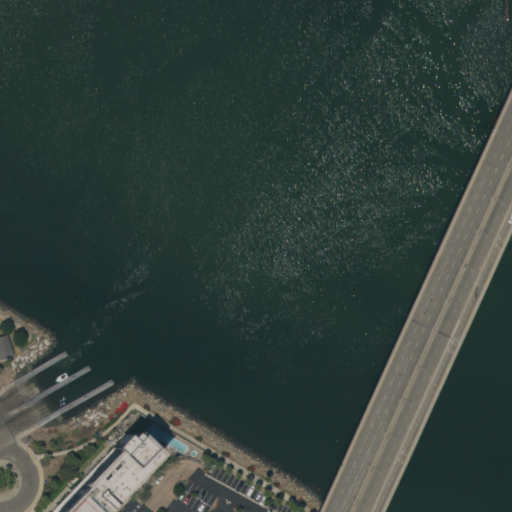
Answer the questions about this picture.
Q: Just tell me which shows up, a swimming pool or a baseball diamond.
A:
swimming pool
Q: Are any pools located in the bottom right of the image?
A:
No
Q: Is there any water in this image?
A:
Yes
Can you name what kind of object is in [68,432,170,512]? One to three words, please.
building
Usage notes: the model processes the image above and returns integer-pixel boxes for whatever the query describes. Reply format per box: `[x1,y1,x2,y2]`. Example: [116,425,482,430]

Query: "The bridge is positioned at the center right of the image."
[321,96,512,512]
